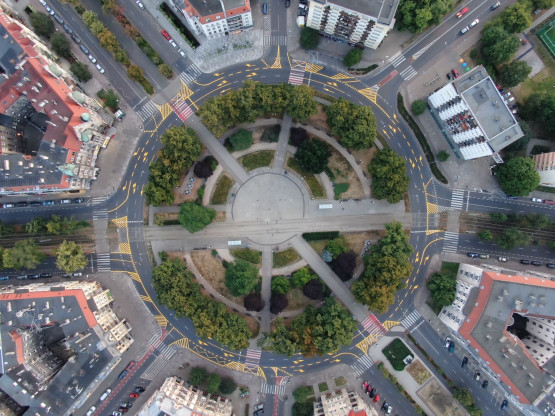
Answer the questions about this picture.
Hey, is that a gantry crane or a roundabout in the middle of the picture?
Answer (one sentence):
There is a roundabout in the middle of the picture.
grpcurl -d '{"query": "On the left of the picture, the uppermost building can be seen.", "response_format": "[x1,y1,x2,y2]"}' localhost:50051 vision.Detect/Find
[173,0,253,39]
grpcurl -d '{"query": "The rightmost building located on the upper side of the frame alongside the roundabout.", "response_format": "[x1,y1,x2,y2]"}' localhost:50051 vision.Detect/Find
[430,64,525,163]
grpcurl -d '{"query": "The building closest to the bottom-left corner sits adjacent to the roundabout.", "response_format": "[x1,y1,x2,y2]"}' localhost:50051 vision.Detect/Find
[0,281,136,416]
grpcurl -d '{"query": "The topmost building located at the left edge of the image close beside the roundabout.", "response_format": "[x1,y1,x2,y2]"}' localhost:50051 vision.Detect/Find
[0,7,114,196]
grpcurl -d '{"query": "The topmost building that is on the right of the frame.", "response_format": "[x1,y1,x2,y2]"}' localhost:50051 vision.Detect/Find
[306,0,399,48]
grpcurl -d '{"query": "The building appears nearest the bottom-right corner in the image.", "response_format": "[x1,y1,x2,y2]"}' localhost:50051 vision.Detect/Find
[437,263,555,416]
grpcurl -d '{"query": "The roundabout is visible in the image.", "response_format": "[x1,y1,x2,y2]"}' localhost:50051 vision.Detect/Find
[107,36,449,382]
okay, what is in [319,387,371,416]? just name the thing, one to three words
building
